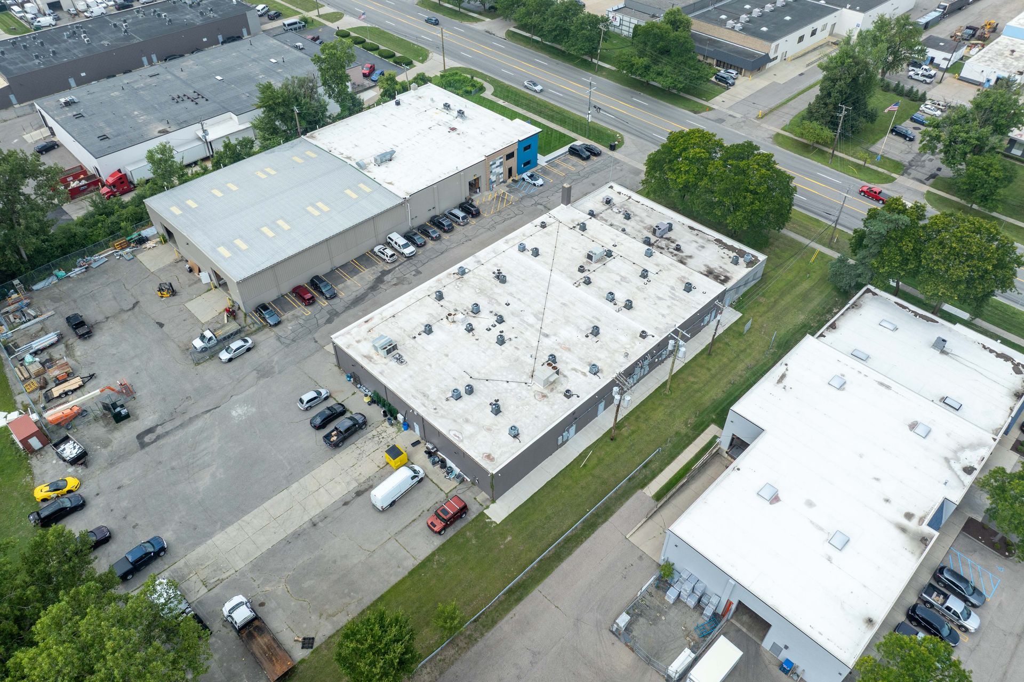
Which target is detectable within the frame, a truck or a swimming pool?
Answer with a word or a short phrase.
truck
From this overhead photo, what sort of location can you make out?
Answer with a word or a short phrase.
industrial area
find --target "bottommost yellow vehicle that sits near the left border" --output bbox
[33,476,82,502]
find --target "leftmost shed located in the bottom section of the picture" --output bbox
[5,412,47,452]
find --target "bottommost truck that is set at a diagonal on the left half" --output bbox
[231,606,295,682]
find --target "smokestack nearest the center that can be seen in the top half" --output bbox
[556,182,576,211]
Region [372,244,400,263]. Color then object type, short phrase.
white car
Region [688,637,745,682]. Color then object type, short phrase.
white vehicle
